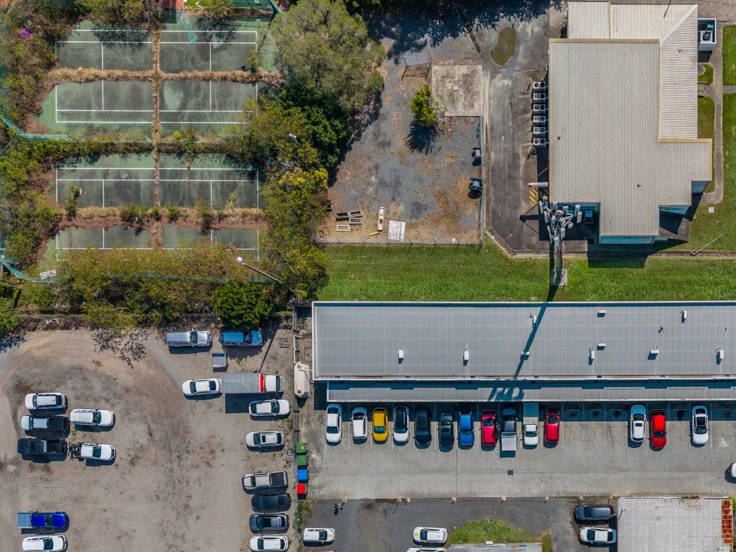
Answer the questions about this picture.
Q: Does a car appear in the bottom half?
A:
Yes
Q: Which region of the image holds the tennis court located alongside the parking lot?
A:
top left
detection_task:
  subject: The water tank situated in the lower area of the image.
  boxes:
[296,364,314,397]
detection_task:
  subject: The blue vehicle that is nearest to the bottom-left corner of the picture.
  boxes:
[16,511,68,531]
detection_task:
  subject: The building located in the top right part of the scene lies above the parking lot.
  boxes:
[546,0,714,242]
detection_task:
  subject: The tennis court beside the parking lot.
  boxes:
[12,0,279,280]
